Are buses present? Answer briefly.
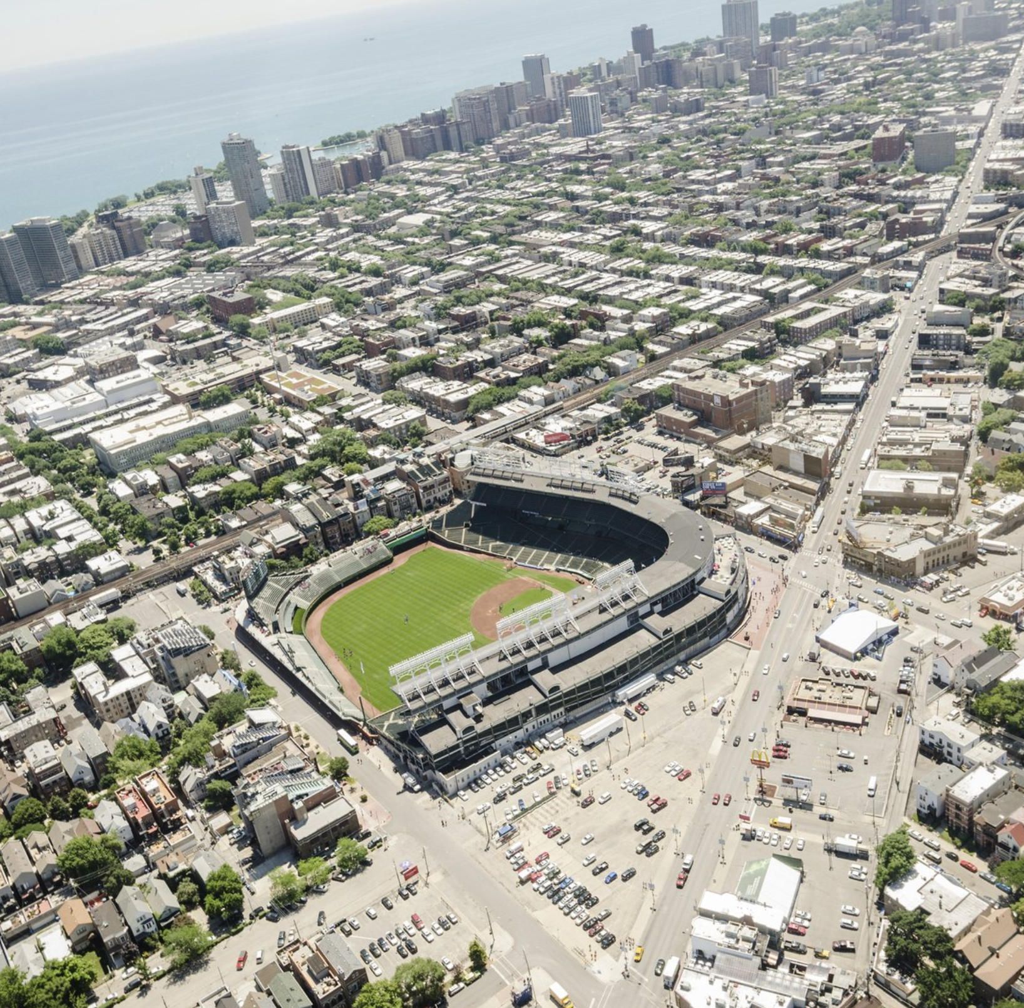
Yes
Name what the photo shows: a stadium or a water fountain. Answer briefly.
stadium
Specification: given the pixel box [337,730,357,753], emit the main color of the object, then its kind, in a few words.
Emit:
white bus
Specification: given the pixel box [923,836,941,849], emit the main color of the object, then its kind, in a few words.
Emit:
white vehicle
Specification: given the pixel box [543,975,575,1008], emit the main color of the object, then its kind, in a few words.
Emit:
white bus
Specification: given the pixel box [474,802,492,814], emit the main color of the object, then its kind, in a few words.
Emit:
white vehicle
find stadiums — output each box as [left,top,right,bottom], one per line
[233,447,752,798]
